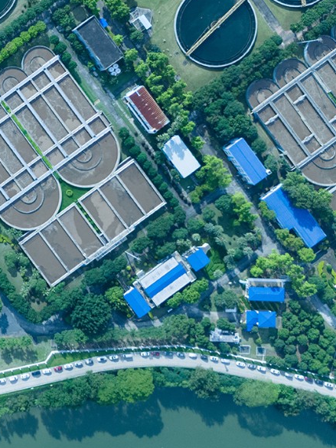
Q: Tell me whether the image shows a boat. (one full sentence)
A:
No, there is no boat in the image.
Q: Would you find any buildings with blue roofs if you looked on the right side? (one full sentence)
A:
Yes, looking on the right side, one can make out a building with a blue roof.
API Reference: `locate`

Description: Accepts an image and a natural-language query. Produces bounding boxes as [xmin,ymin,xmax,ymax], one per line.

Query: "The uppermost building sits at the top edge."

[129,7,153,31]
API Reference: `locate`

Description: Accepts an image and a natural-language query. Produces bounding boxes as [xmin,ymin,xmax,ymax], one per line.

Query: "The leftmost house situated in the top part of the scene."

[74,16,123,71]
